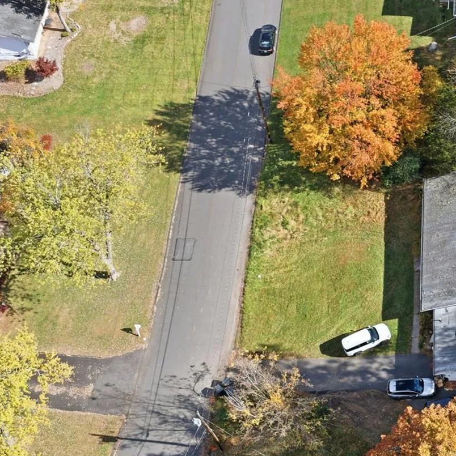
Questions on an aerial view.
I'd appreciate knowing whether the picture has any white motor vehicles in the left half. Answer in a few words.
No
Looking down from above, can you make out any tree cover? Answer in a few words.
Yes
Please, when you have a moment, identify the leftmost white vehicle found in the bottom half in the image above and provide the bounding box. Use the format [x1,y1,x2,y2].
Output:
[340,326,392,360]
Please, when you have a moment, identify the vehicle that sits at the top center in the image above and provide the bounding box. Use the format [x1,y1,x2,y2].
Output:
[256,27,277,58]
